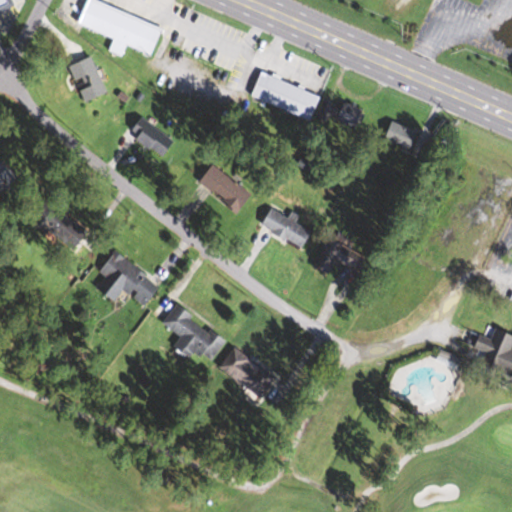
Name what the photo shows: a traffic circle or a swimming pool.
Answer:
swimming pool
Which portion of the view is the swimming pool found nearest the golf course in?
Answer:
bottom right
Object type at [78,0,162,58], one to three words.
building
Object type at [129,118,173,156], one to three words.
house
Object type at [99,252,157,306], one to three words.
house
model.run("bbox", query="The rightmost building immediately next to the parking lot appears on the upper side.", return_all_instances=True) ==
[252,70,317,120]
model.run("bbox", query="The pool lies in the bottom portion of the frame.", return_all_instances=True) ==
[390,356,456,414]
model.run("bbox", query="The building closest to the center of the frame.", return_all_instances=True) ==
[262,208,310,248]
